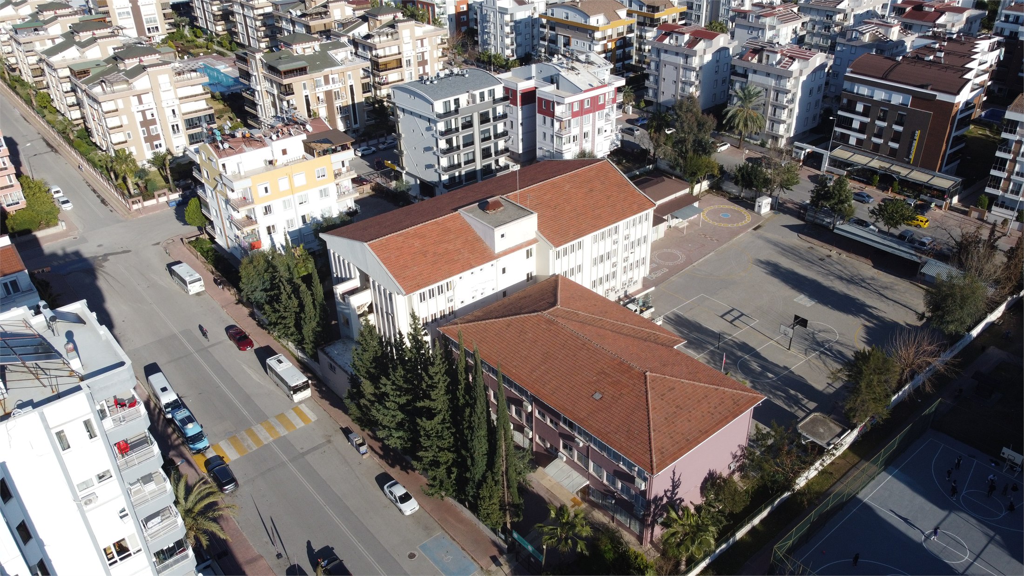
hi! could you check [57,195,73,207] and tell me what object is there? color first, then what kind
white vehicle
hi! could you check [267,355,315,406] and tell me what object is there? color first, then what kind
white vehicle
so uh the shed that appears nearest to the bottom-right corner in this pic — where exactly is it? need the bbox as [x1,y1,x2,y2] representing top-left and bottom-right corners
[796,411,852,465]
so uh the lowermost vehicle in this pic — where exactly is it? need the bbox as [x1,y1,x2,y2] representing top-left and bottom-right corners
[321,556,356,576]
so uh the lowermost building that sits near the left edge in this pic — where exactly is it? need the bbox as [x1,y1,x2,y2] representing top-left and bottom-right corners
[0,298,203,576]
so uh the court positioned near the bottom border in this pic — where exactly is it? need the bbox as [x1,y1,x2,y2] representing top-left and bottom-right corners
[773,428,1024,576]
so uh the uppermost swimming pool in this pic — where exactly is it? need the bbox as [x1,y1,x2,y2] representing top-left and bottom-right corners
[189,66,244,92]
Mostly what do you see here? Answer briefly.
buildings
